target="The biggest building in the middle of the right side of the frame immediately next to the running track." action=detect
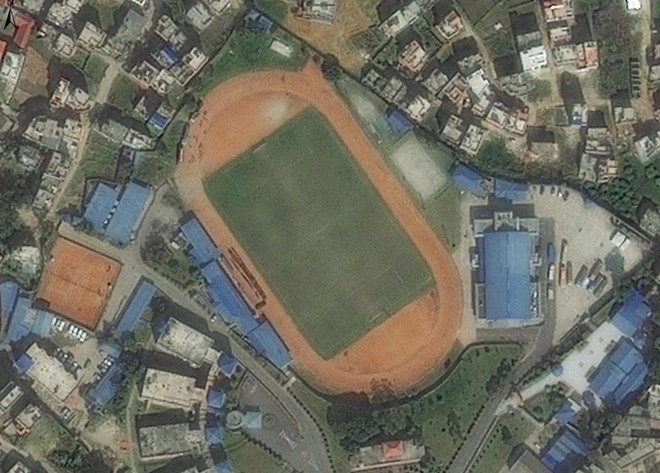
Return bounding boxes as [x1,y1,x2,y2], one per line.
[472,211,548,328]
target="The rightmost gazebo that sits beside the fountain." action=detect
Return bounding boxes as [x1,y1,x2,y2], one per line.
[244,410,265,432]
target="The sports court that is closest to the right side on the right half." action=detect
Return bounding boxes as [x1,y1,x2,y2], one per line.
[385,126,454,207]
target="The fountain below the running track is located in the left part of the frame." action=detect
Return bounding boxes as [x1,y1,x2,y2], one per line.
[226,411,244,430]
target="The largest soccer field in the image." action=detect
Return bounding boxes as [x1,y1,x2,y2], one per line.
[201,105,436,362]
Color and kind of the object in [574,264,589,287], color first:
gray vehicle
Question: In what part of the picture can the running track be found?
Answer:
center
